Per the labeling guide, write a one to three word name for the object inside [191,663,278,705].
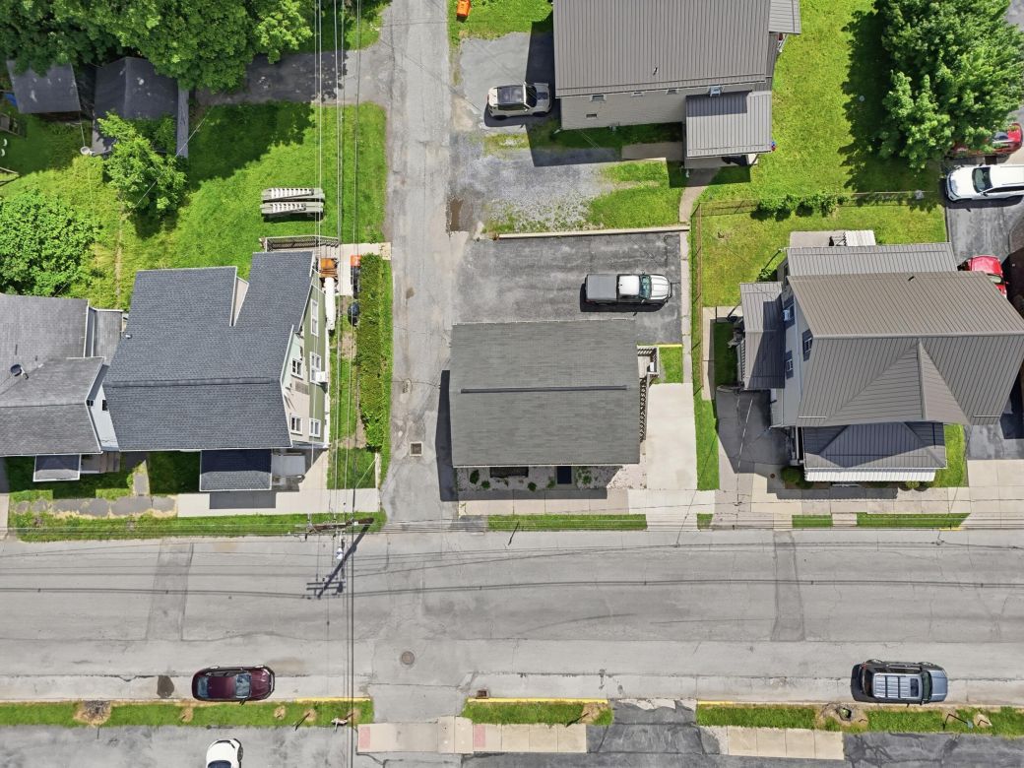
car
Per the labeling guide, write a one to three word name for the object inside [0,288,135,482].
house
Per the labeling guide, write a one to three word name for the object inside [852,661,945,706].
car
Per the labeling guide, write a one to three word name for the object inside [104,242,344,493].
building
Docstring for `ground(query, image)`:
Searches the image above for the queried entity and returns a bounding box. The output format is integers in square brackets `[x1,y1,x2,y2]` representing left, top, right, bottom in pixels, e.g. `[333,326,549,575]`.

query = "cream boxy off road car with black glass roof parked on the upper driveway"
[488,79,553,121]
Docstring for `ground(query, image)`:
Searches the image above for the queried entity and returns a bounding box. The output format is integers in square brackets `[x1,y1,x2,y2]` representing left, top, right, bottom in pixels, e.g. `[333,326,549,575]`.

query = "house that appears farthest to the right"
[713,230,1024,488]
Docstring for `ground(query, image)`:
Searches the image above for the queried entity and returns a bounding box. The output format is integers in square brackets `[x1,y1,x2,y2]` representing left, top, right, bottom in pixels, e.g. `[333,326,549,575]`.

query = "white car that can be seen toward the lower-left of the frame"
[203,736,245,768]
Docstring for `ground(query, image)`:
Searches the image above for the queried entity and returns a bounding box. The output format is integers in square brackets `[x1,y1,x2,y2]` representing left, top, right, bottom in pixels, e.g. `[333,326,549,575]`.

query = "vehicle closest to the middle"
[585,270,675,307]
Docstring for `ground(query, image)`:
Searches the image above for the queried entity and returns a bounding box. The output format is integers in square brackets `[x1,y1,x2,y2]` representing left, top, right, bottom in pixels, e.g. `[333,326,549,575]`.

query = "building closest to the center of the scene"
[449,318,658,467]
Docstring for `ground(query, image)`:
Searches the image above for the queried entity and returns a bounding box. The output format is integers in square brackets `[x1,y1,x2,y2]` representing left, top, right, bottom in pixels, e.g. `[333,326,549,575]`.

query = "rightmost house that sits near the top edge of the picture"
[544,0,800,178]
